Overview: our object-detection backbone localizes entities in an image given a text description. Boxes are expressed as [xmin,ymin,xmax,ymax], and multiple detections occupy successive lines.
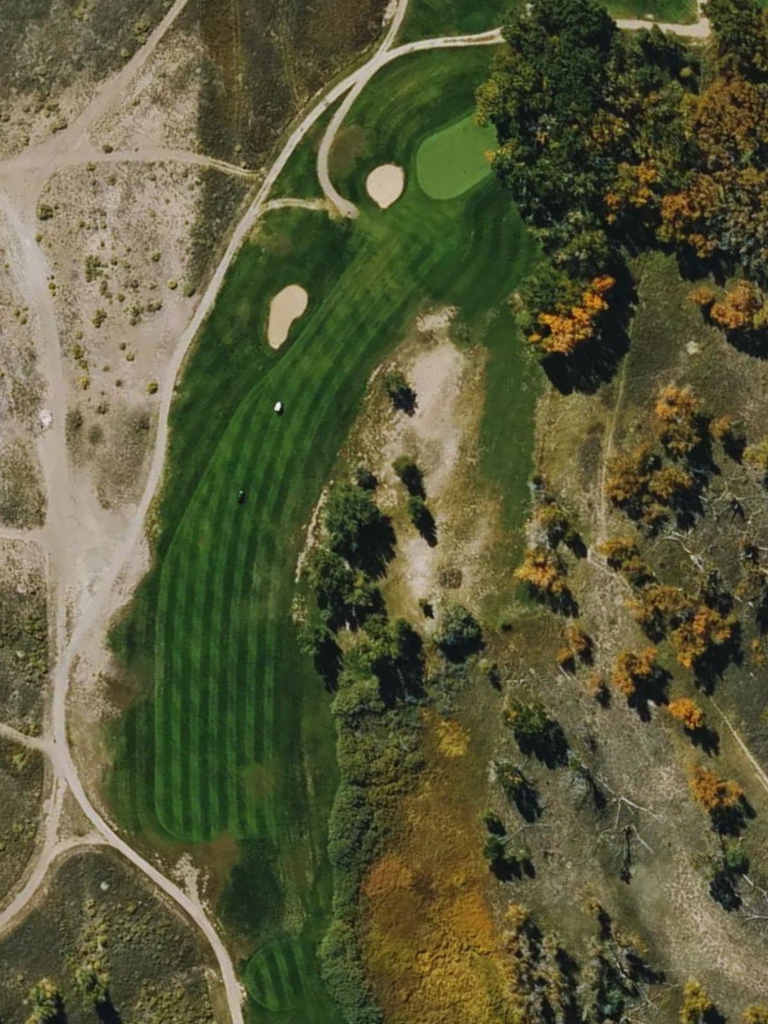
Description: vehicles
[274,402,281,413]
[238,491,245,502]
